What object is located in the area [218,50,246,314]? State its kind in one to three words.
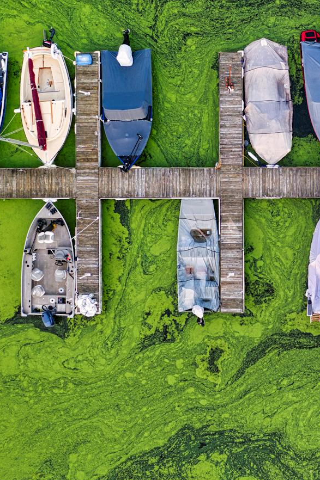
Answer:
pier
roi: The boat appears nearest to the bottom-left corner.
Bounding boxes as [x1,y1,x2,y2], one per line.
[21,200,78,332]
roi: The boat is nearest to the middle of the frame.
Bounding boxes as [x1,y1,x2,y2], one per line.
[176,199,220,329]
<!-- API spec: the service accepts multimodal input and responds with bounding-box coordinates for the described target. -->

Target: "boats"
[176,199,220,329]
[306,216,320,322]
[101,29,155,172]
[242,38,292,165]
[21,200,78,332]
[0,24,75,166]
[0,52,11,143]
[299,29,320,141]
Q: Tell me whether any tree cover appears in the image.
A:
No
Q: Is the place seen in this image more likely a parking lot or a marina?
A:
marina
